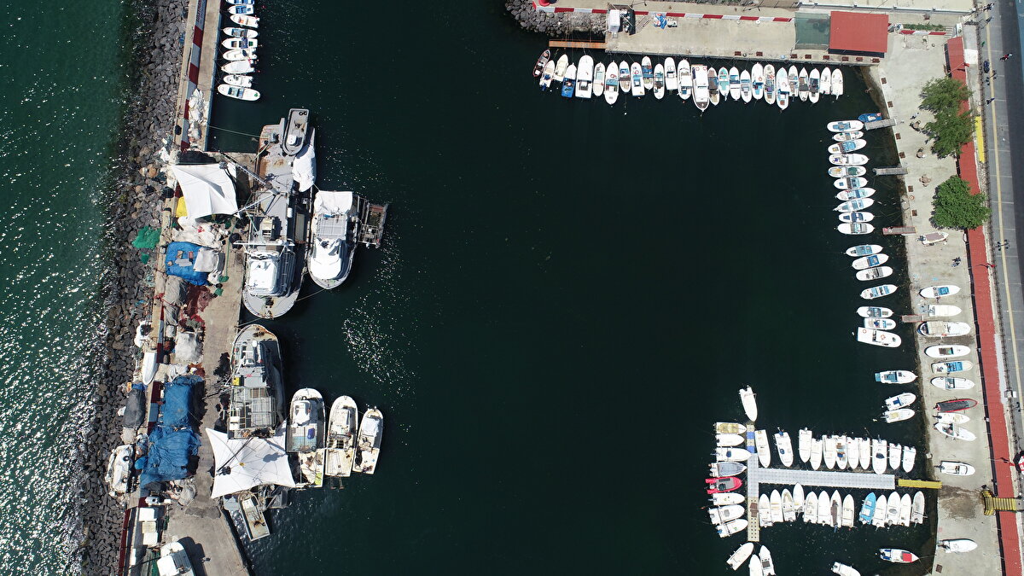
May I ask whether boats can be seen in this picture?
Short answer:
Yes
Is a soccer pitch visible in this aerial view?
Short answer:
No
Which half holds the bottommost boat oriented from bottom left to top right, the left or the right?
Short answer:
right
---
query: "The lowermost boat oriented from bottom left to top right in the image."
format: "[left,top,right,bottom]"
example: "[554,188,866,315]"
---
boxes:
[727,544,753,570]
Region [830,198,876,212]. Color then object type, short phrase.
white boat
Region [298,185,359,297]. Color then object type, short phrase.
white vessel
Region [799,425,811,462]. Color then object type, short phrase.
white boat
